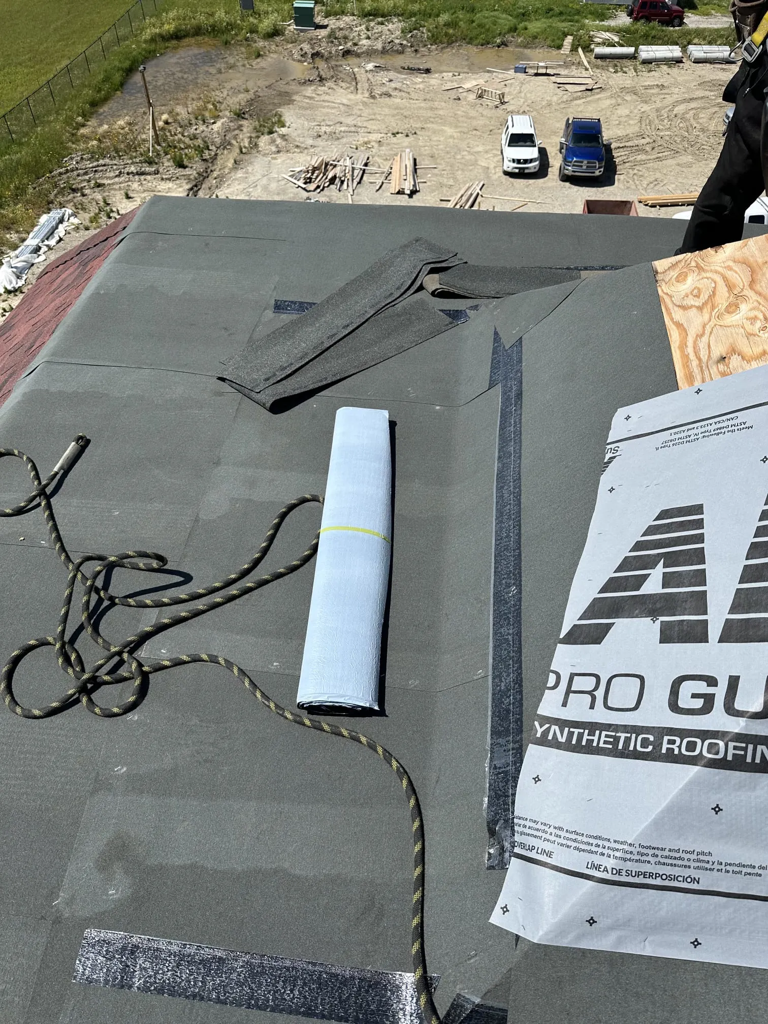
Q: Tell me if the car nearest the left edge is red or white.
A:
white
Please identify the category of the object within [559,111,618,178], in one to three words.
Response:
truck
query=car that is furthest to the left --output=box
[500,113,546,172]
